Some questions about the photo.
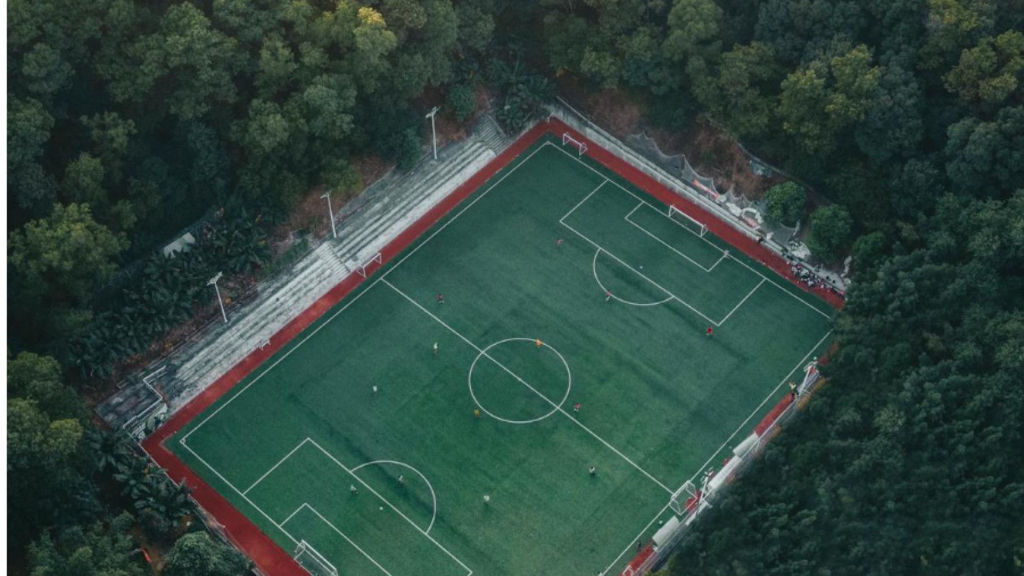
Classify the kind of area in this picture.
sports ground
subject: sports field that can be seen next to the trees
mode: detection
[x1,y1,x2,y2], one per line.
[163,131,839,576]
